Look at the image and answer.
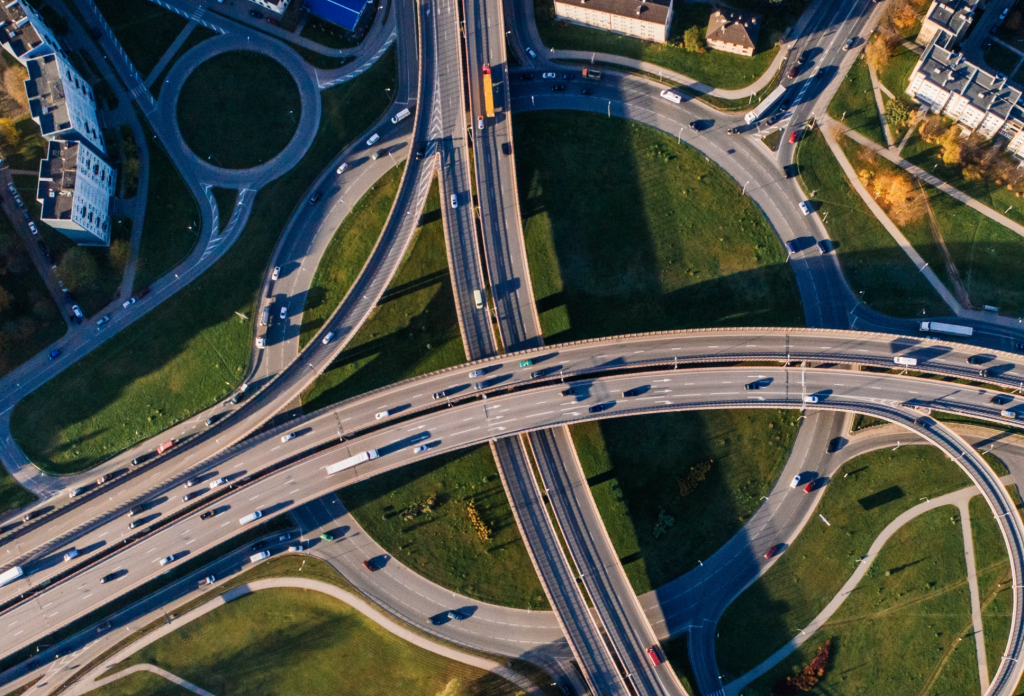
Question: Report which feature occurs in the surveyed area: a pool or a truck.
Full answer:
The one in the frame is a truck.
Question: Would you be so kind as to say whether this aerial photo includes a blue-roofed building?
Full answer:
Yes, there is a blue-roofed building in the image.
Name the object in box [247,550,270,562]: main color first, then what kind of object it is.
white vehicle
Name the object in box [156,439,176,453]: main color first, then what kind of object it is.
red vehicle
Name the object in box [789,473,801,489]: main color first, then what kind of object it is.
white vehicle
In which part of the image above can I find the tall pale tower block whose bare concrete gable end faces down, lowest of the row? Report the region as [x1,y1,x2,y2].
[36,140,116,245]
